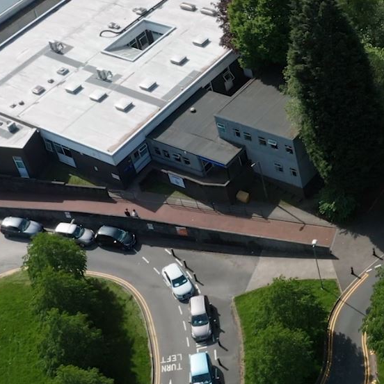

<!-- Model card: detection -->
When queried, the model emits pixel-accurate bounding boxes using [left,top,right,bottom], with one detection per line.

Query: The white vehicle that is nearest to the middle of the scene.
[160,261,197,306]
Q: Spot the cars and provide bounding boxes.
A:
[160,261,197,306]
[0,217,47,242]
[53,219,95,250]
[187,295,214,343]
[91,225,140,254]
[187,353,215,384]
